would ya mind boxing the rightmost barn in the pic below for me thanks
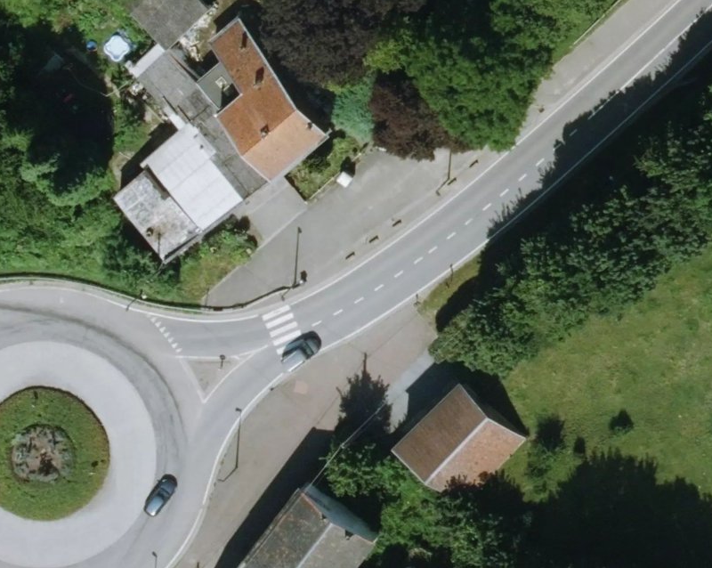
[391,378,526,501]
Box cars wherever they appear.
[279,330,325,367]
[144,474,178,517]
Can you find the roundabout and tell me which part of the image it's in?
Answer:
bottom left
